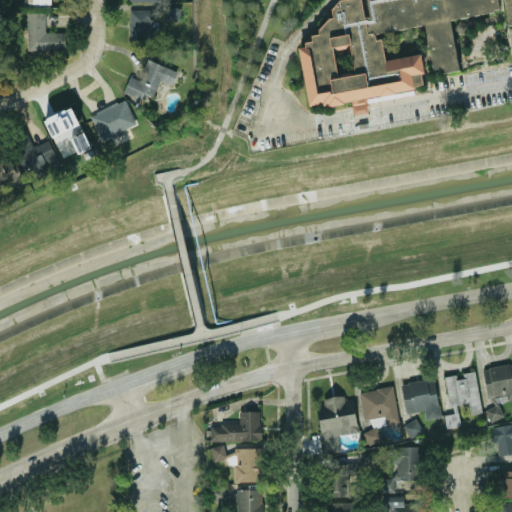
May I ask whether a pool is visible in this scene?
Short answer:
Yes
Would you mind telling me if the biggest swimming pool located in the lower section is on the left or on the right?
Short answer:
right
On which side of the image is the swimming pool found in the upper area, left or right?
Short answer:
left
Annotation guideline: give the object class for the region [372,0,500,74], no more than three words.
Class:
building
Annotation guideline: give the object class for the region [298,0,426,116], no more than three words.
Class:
building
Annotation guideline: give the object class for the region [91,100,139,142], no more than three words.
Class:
house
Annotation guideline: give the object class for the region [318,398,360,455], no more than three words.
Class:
house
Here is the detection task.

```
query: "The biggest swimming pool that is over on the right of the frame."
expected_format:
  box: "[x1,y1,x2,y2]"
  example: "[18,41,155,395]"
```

[340,430,362,452]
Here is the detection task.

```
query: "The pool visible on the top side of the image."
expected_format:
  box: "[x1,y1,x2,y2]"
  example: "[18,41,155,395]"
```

[156,82,182,115]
